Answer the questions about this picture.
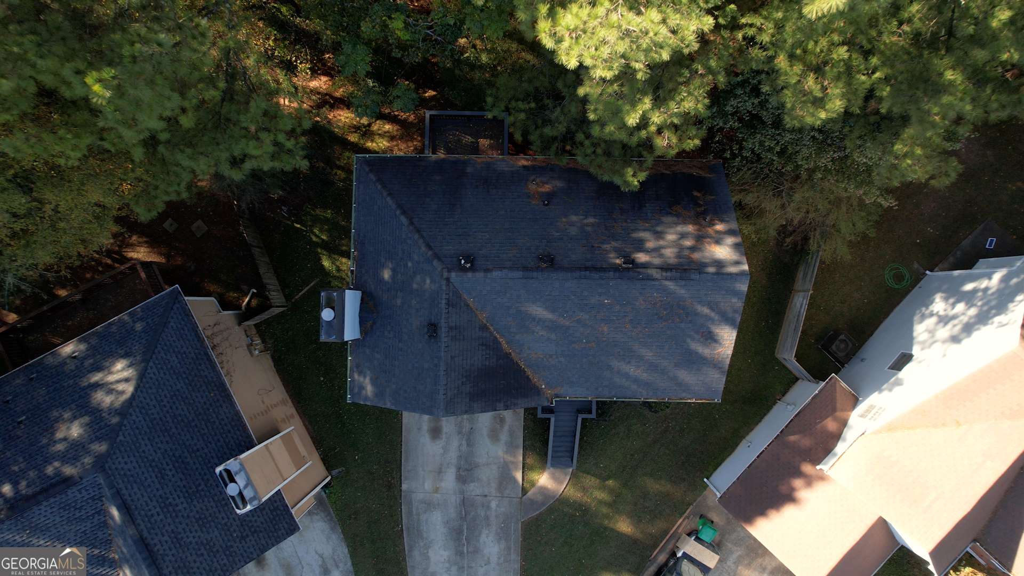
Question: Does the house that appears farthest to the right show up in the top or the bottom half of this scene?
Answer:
bottom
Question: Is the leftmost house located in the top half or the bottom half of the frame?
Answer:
bottom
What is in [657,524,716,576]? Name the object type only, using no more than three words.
vehicle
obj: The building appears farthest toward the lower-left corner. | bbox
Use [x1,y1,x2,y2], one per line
[0,285,330,576]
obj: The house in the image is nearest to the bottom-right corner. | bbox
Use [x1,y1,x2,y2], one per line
[695,255,1024,576]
